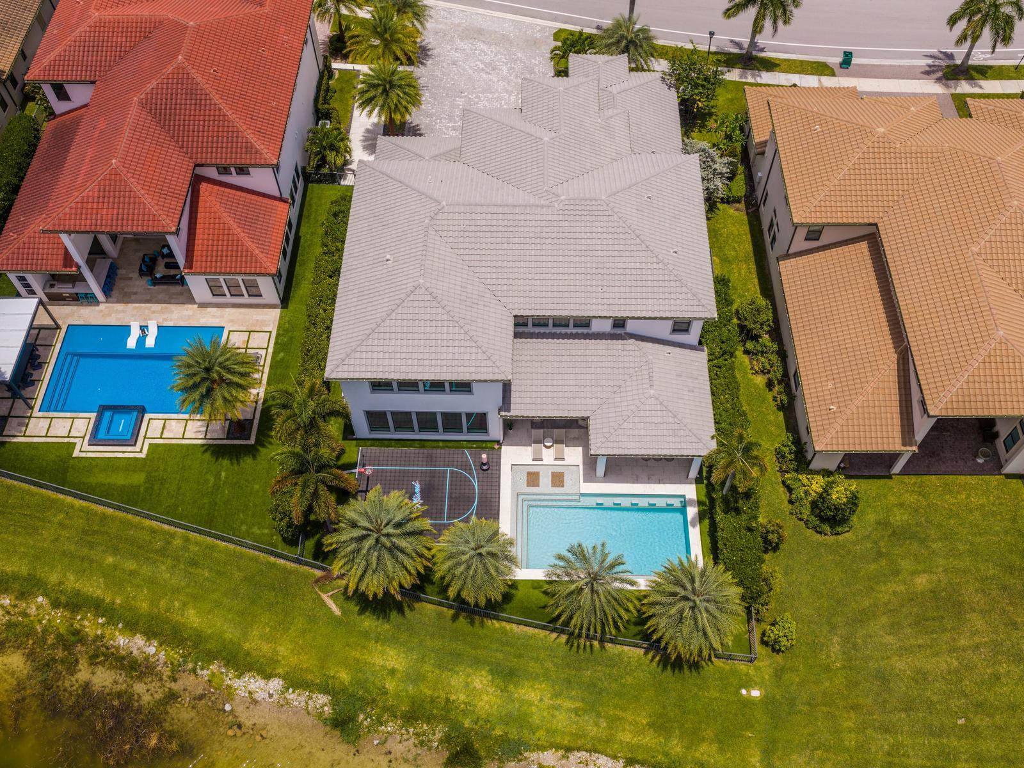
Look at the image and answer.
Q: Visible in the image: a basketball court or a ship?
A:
basketball court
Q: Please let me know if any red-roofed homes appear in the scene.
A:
Yes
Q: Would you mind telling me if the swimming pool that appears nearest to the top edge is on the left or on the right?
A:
left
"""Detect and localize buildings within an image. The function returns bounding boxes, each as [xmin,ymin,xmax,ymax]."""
[0,0,335,305]
[323,52,720,478]
[744,85,1024,474]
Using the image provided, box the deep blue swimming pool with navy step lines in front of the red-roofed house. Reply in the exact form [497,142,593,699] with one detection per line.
[38,324,227,414]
